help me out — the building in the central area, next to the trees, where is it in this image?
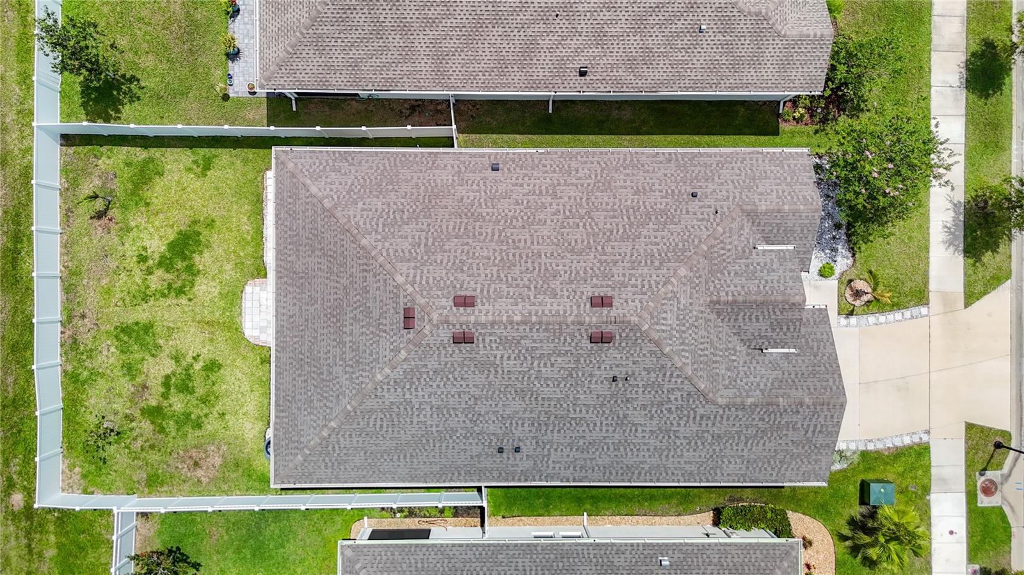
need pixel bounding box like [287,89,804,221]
[271,147,846,489]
